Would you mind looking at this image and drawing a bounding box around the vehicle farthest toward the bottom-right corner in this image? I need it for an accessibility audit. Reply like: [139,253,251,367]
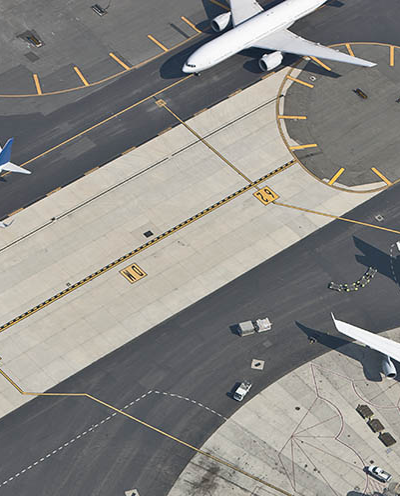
[368,466,392,484]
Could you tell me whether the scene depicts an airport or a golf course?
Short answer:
airport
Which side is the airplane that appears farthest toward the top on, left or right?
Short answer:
right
